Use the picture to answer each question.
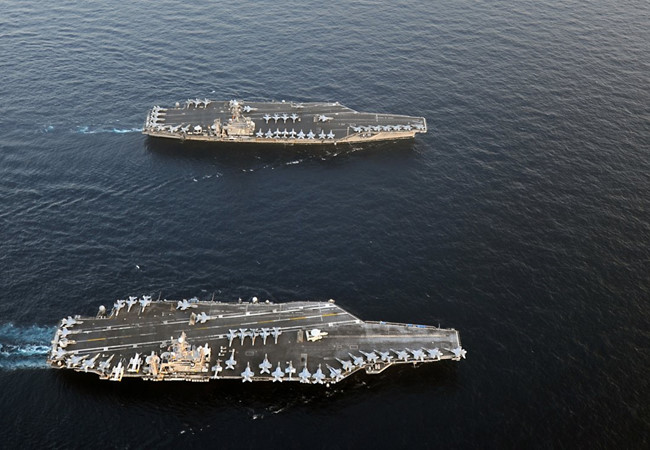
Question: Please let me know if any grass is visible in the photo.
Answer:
No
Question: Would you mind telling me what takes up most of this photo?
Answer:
water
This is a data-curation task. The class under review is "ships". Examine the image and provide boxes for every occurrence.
[143,95,426,146]
[46,296,461,387]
